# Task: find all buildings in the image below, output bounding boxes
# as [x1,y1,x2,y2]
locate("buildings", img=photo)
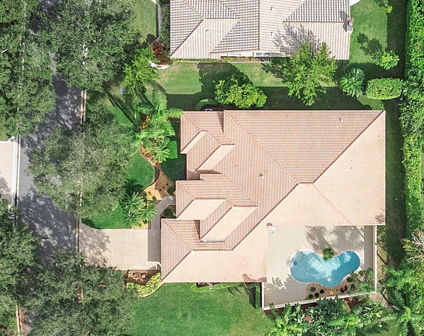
[160,110,386,283]
[169,0,354,62]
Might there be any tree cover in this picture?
Yes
